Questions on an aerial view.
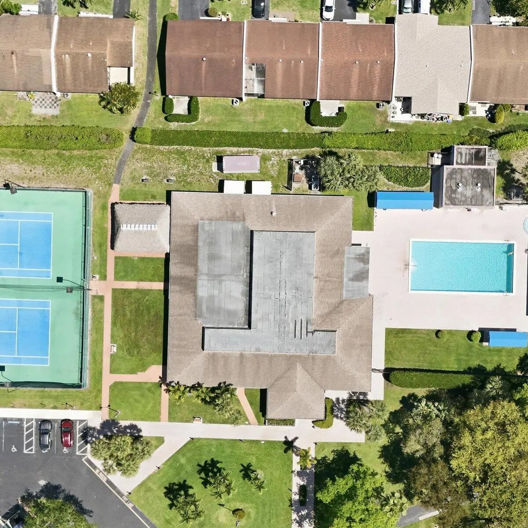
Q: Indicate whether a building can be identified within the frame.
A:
Yes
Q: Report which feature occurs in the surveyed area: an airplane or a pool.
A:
pool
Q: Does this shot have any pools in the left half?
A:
No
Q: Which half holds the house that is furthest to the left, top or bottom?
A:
top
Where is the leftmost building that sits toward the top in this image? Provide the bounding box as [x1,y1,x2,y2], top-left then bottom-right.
[0,14,62,98]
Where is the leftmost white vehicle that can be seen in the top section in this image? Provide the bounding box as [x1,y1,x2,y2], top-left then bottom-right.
[322,0,337,22]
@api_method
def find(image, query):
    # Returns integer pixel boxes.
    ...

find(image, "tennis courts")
[0,190,90,289]
[0,287,90,385]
